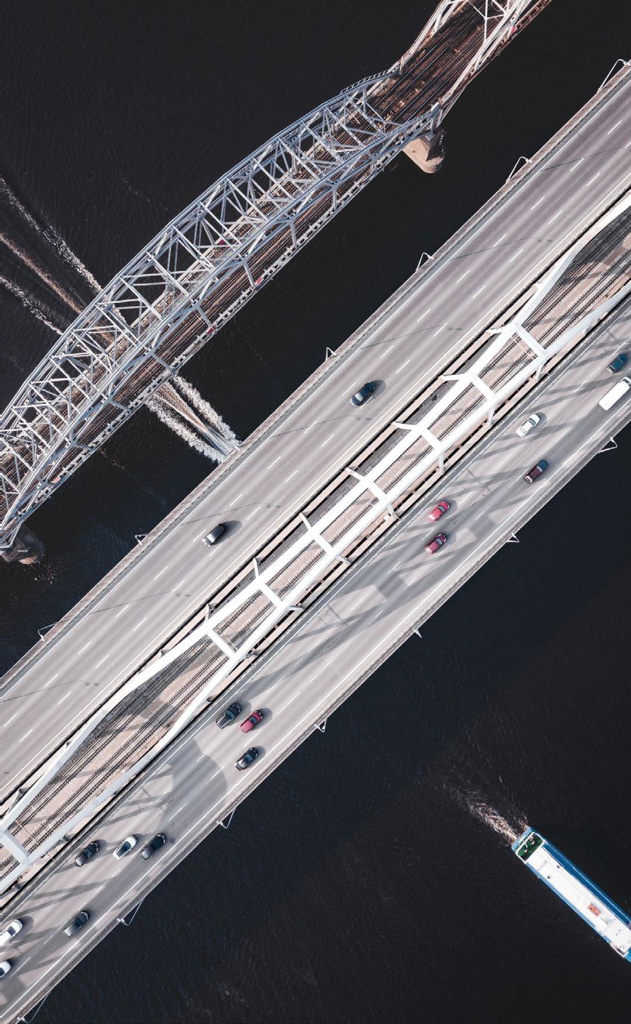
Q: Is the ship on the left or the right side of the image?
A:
right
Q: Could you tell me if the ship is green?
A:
No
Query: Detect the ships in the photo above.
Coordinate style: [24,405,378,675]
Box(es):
[511,825,631,956]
